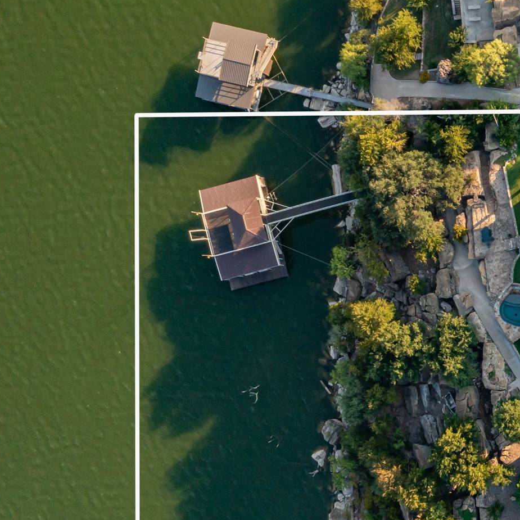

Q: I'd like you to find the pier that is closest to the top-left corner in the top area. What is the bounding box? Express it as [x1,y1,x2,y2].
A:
[193,23,278,112]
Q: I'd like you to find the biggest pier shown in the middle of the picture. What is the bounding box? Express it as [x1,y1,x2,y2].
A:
[188,174,290,290]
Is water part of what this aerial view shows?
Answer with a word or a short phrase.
Yes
